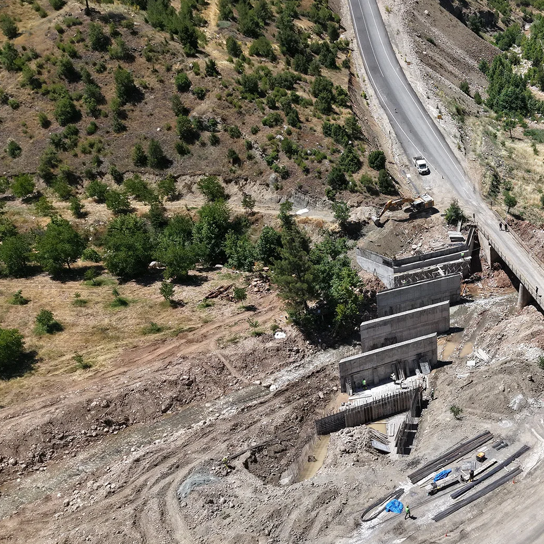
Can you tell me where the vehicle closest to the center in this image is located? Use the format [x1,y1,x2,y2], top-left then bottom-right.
[375,194,437,220]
